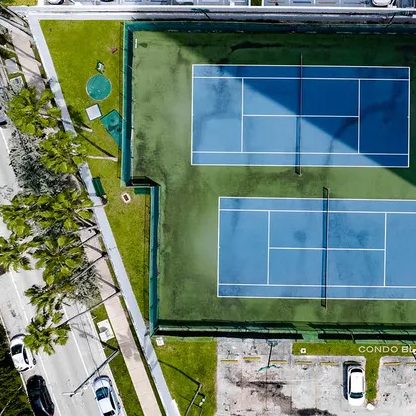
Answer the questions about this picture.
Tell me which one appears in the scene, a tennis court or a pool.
tennis court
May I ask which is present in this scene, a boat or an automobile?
automobile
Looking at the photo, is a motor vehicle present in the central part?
No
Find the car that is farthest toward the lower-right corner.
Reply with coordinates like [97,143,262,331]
[345,360,365,404]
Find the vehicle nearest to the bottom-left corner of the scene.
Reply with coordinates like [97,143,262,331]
[26,376,57,416]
